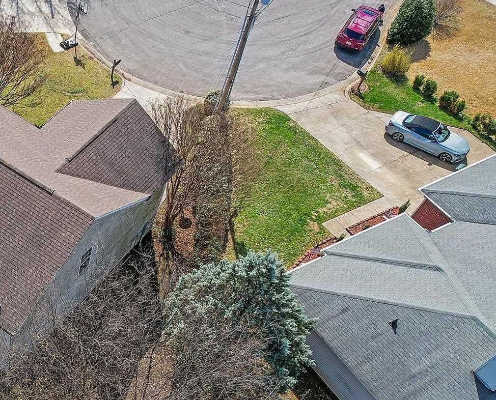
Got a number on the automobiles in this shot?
2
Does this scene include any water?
No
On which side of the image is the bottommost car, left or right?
right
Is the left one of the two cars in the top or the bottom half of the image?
top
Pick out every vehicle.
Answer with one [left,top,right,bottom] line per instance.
[388,107,473,160]
[338,6,387,53]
